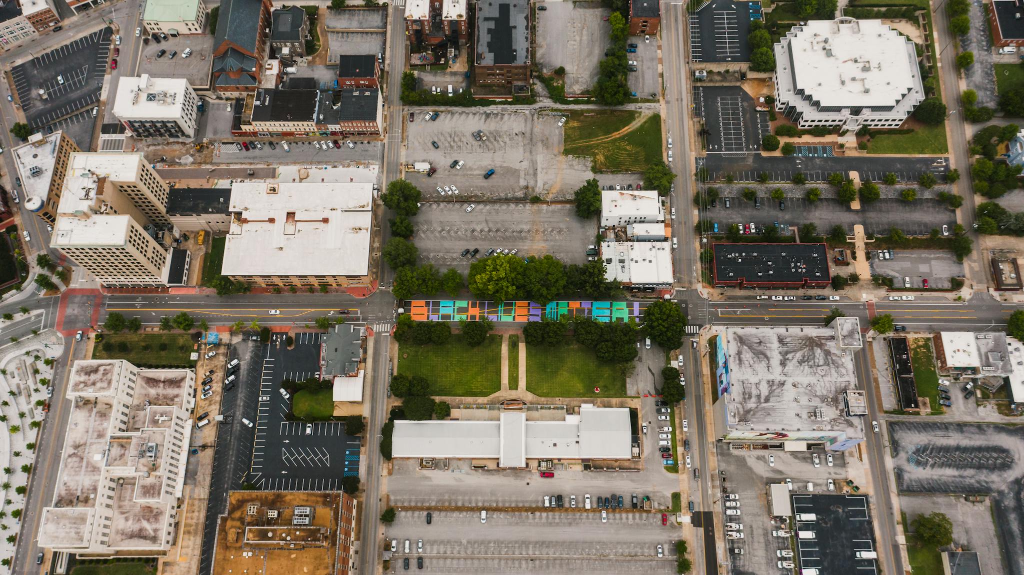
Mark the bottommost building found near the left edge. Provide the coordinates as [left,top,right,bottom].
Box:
[38,361,196,559]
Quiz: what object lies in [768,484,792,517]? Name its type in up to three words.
shed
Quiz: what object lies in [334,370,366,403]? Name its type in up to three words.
tent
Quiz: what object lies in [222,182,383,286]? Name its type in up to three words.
building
